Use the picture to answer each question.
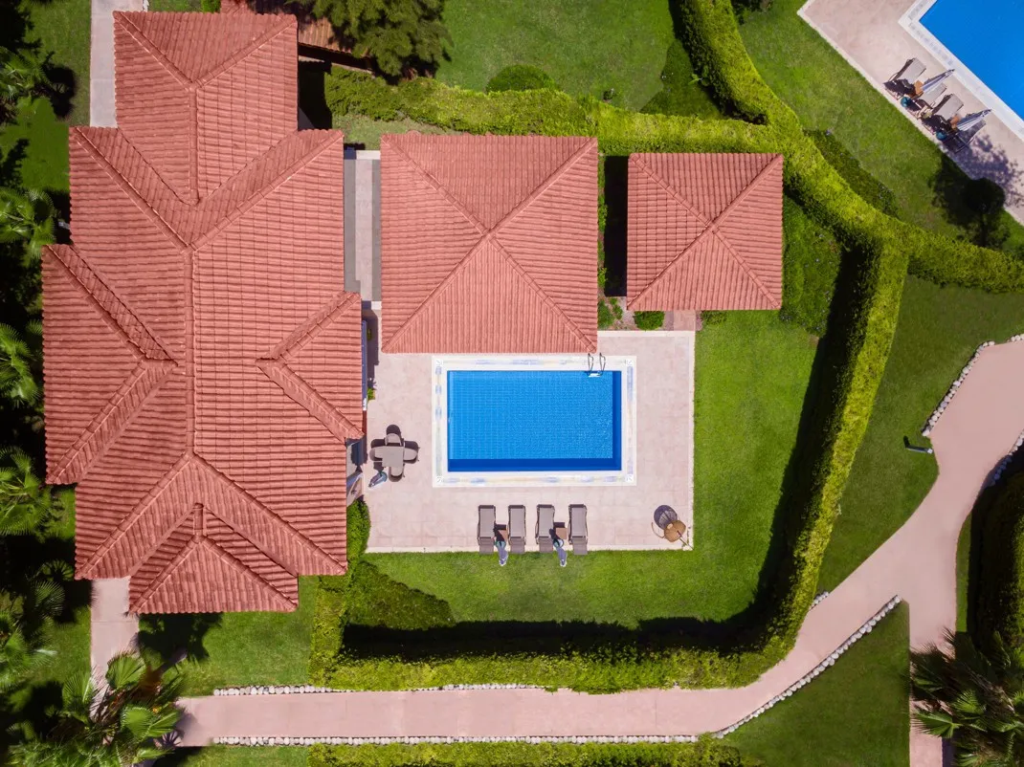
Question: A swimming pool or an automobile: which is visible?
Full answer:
There is a swimming pool in the scene.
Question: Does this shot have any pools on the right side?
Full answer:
Yes, there is a pool on the right side.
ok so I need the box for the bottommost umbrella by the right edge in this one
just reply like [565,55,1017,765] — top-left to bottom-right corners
[938,103,997,139]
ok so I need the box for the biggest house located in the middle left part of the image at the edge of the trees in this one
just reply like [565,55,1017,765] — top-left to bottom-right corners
[39,8,366,615]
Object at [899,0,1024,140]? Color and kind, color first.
blue swimming pool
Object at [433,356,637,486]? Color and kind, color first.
blue swimming pool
